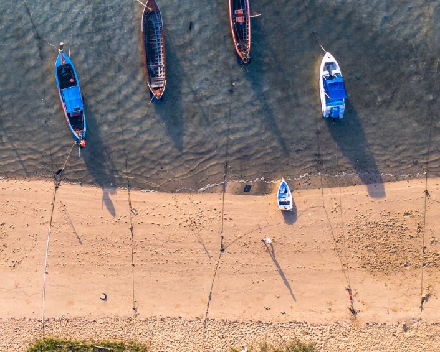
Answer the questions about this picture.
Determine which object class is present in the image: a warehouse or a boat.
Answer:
boat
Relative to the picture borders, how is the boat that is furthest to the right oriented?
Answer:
vertically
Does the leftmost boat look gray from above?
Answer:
No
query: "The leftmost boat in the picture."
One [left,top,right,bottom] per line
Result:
[55,43,88,159]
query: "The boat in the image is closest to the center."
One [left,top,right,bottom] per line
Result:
[275,179,292,211]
